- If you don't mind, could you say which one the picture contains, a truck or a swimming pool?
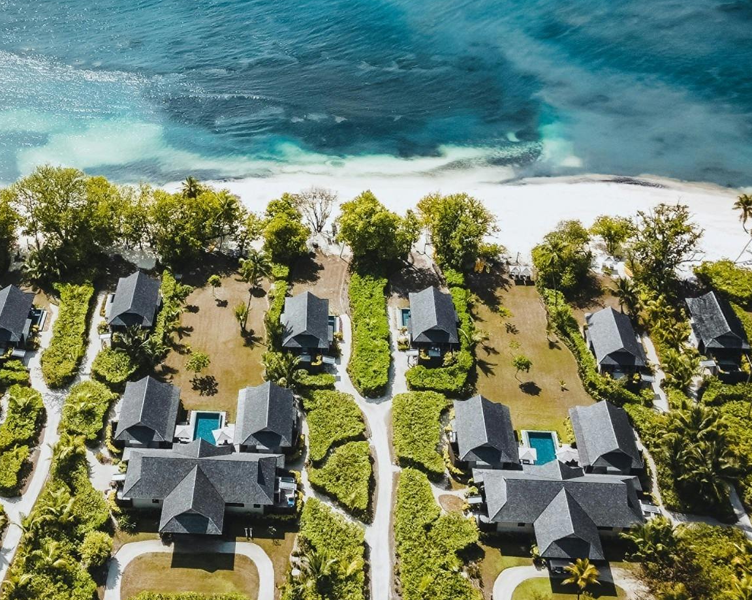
swimming pool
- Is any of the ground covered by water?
Yes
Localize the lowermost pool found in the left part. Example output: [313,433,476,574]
[174,410,236,454]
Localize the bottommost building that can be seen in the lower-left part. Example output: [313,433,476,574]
[109,436,297,552]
